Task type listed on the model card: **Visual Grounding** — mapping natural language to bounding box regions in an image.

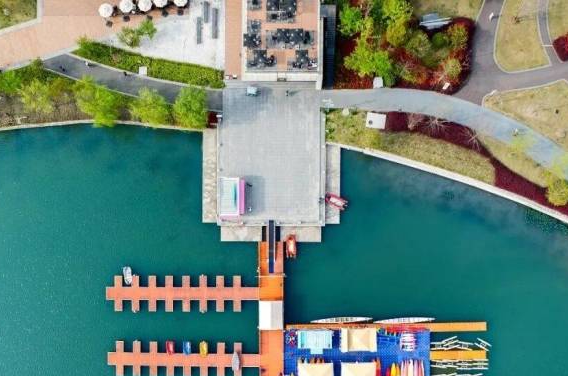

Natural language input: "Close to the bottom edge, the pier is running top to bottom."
[257,241,285,376]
